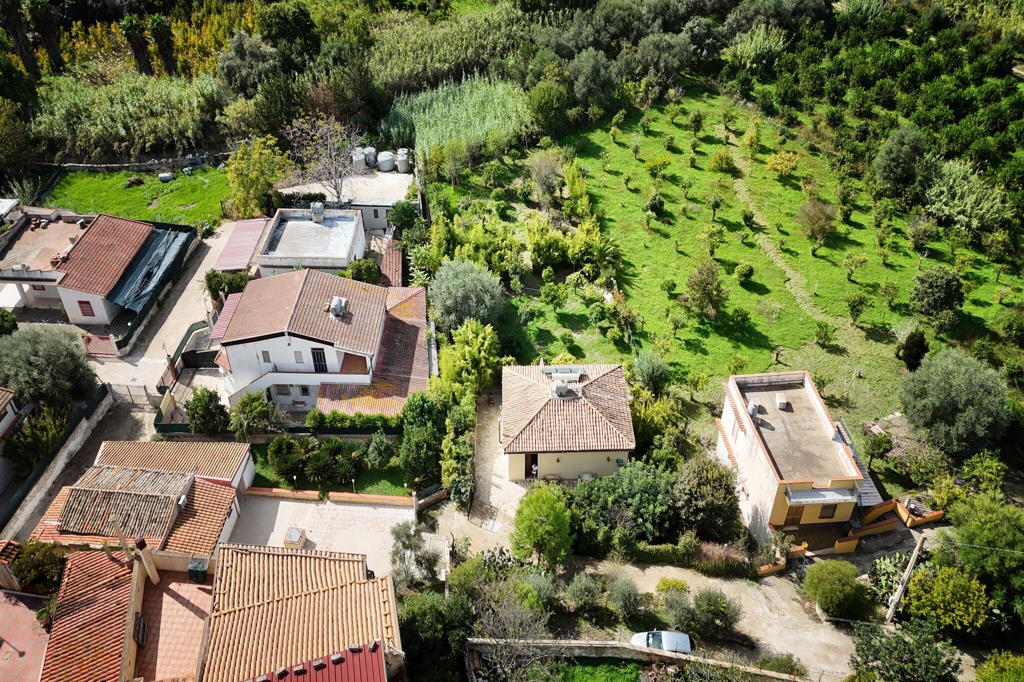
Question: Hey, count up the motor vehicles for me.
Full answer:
Only 1 motor vehicle is visible.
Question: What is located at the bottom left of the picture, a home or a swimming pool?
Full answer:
Looking at the bottom left of the picture, you will find a home.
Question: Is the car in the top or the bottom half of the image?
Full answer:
The car sits in the bottom half of the picture.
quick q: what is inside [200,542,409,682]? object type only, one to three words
house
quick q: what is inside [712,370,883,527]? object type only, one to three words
house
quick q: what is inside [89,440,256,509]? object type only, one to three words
building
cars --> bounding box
[635,632,693,654]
